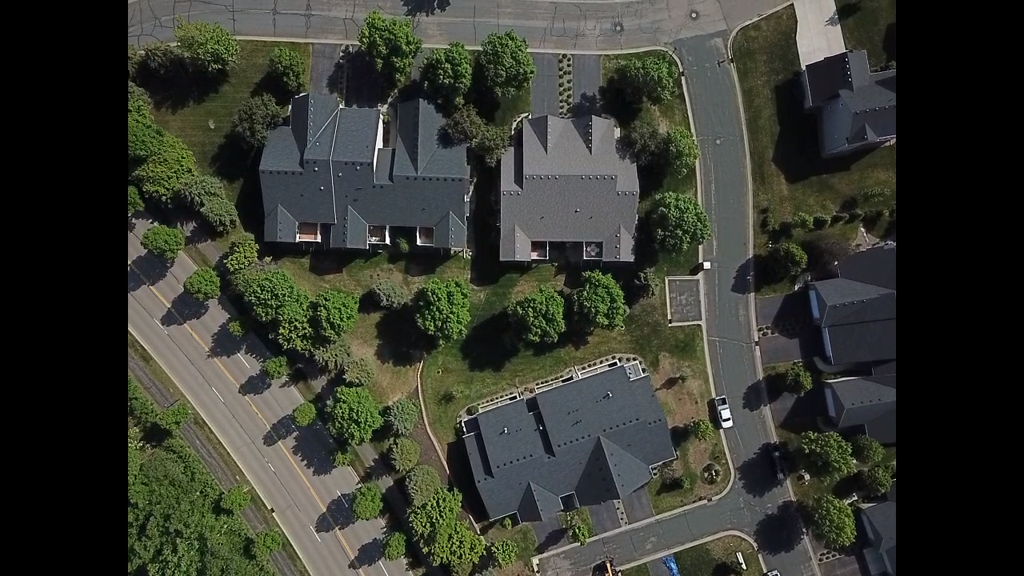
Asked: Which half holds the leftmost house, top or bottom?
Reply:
top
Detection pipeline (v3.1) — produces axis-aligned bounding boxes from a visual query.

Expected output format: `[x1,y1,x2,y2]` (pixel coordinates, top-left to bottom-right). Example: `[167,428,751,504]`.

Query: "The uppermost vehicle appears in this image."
[717,396,735,431]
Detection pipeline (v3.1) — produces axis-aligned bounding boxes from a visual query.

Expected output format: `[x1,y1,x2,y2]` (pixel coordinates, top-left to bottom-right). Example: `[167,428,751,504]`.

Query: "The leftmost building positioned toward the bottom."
[462,359,676,523]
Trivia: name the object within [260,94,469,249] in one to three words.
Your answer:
house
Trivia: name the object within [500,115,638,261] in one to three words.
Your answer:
house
